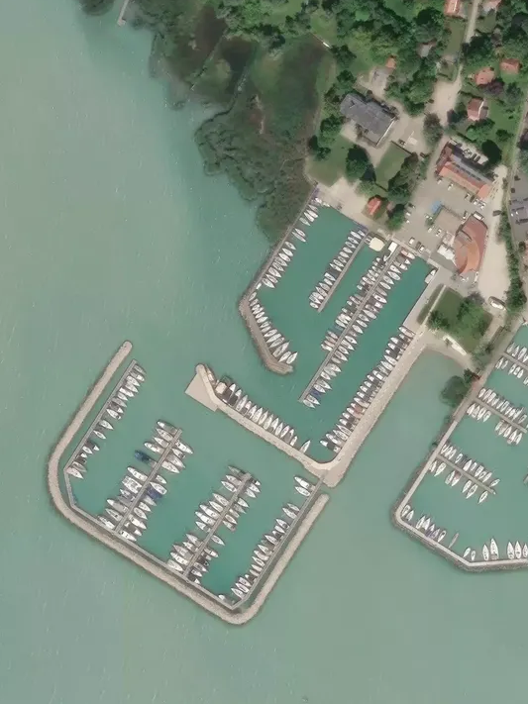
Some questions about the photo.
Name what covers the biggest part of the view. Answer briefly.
water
